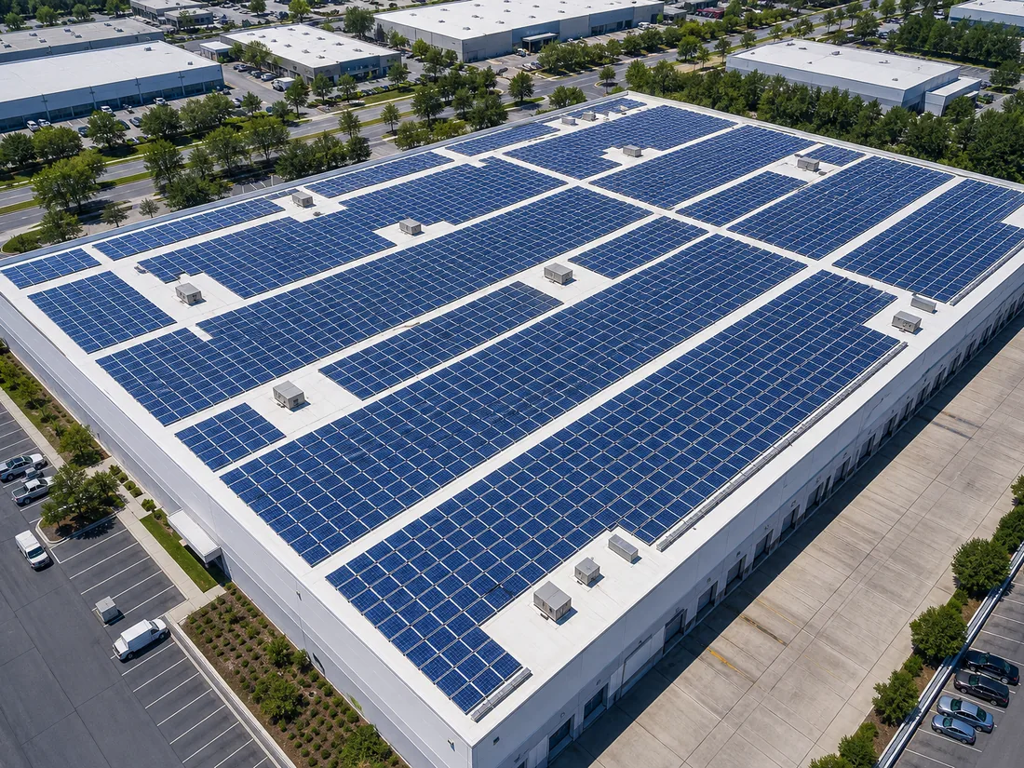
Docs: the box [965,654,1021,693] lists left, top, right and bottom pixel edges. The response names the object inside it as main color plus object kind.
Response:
black car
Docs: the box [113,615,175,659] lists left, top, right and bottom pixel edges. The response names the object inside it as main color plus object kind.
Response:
white van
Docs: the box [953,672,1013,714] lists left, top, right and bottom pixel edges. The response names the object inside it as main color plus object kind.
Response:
black car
